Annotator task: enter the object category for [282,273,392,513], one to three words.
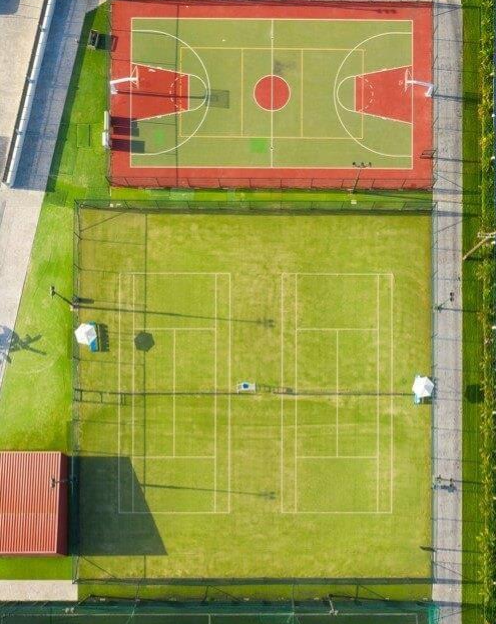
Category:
tennis court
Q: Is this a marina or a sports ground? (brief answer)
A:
sports ground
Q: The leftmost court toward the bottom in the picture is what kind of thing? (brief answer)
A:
tennis court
